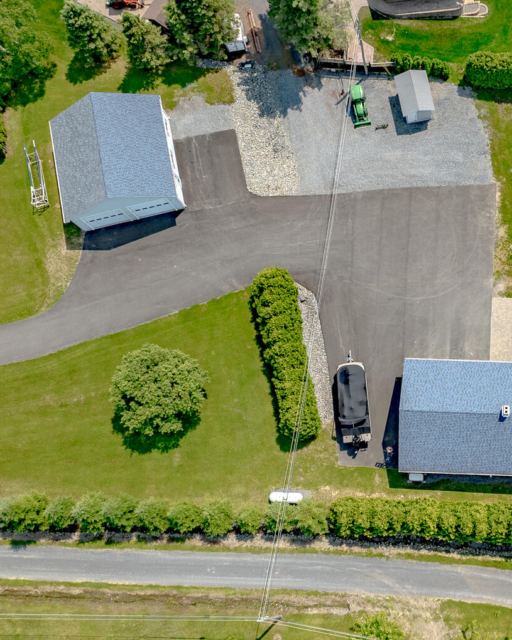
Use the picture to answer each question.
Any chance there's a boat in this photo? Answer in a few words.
Yes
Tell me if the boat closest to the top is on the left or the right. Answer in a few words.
right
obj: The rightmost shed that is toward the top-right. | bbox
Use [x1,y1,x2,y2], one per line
[394,65,434,128]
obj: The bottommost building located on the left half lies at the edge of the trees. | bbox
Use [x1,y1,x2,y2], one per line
[48,92,183,232]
